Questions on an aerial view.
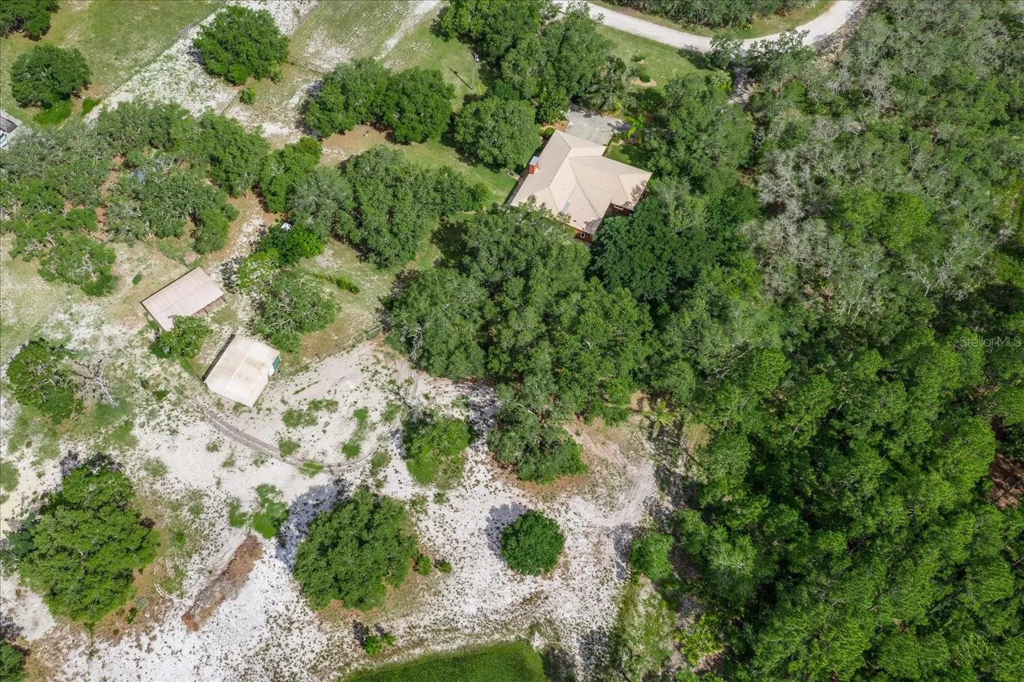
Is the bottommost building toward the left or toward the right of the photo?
left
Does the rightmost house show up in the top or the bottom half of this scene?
top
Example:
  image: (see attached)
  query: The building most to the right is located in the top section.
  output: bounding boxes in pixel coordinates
[509,129,653,250]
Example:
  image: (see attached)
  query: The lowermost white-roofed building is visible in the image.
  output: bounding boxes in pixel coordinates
[205,336,286,408]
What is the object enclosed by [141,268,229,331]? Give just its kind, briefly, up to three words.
shed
